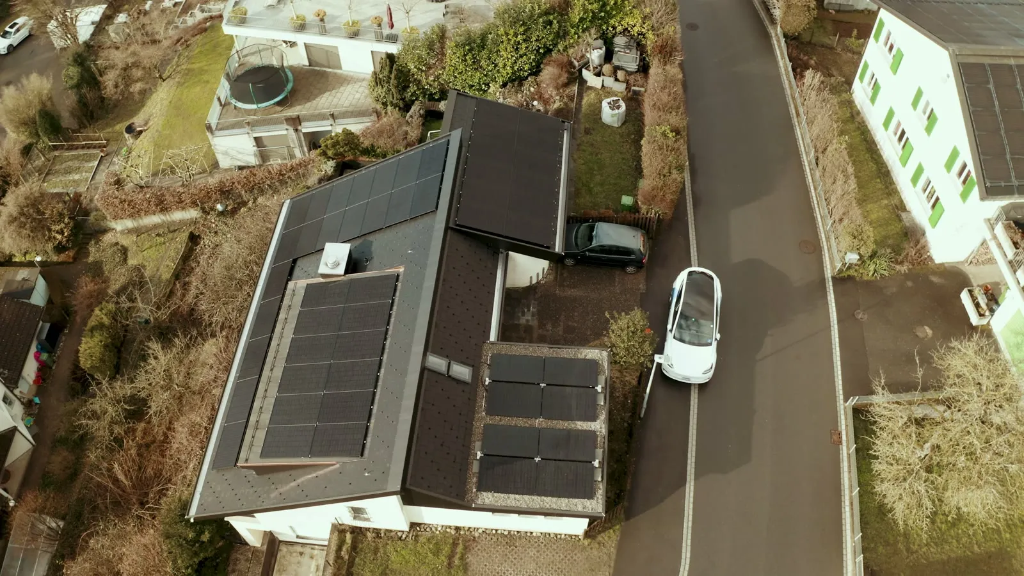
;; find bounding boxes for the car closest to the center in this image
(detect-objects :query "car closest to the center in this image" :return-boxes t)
[549,224,648,277]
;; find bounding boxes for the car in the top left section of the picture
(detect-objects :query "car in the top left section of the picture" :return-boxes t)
[0,17,35,58]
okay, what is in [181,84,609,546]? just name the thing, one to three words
house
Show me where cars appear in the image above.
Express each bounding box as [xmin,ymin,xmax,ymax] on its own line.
[549,224,648,277]
[0,17,35,58]
[660,269,722,386]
